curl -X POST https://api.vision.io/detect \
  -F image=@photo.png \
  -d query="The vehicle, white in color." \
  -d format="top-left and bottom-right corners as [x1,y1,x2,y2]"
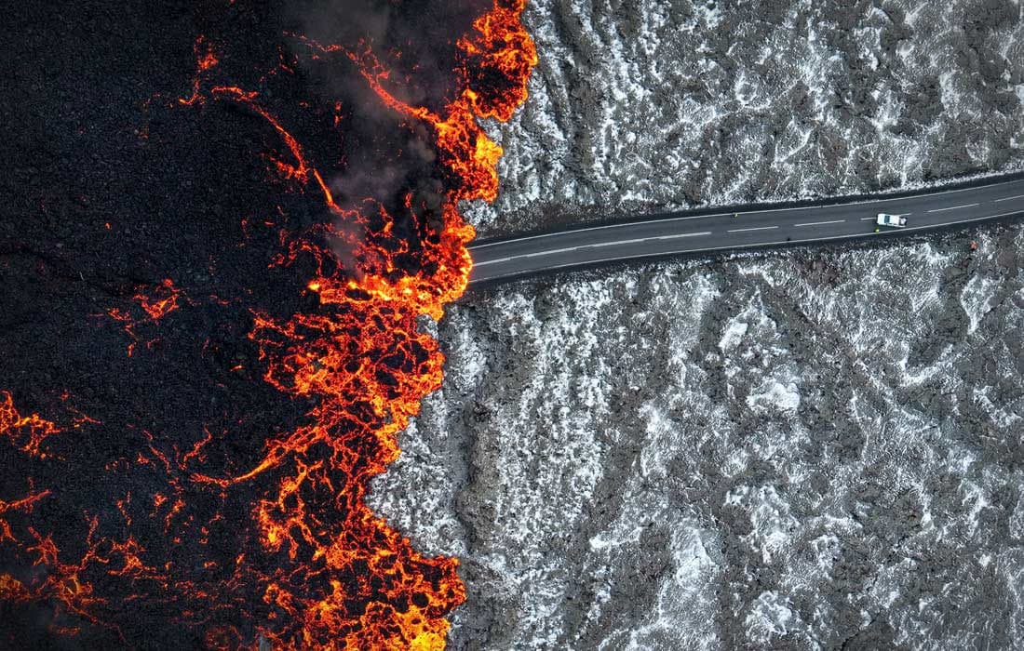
[876,215,908,227]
